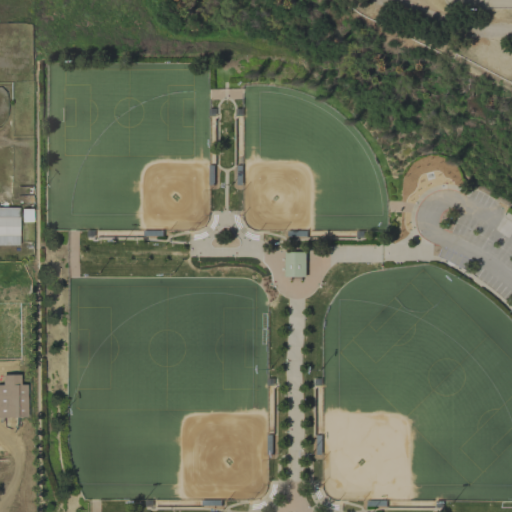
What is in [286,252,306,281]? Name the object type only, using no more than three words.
building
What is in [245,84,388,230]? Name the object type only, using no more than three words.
sports field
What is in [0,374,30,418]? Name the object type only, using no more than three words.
house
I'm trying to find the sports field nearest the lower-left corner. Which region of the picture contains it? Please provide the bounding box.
[68,278,270,500]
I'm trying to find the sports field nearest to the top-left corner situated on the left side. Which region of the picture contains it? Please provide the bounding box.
[48,62,212,230]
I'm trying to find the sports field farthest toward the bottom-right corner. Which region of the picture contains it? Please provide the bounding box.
[322,264,512,500]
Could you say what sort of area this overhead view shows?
sports ground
